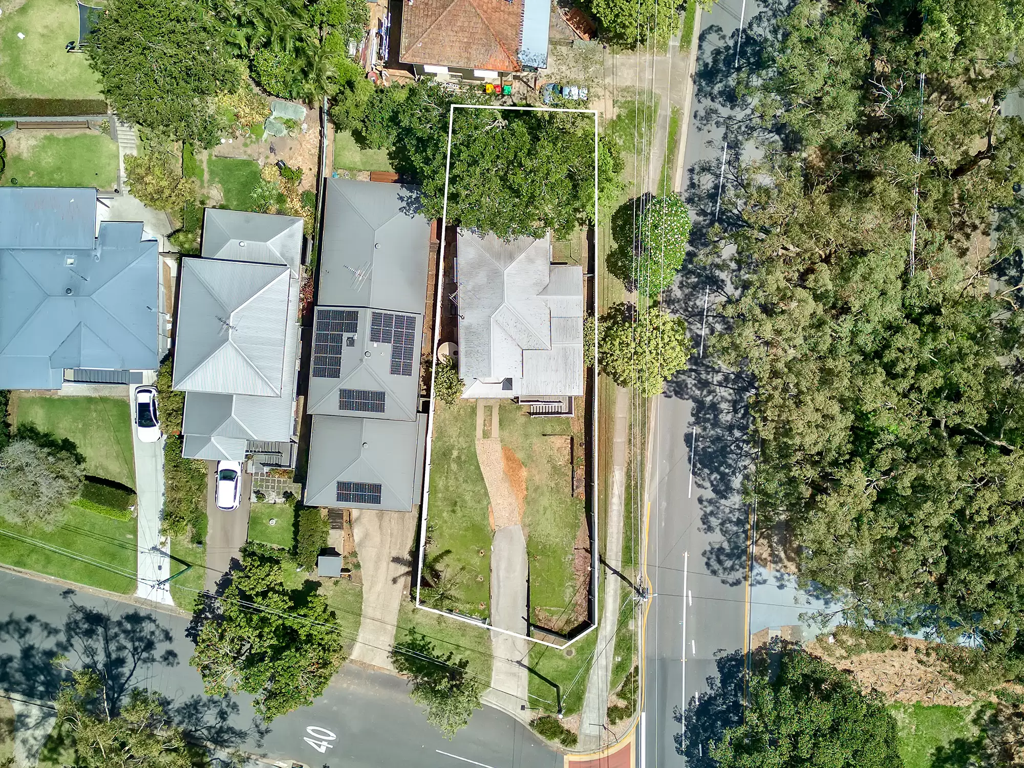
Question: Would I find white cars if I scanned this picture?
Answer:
Yes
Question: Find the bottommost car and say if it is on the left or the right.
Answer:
left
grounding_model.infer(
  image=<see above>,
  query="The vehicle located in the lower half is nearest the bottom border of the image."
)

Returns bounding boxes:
[212,461,245,512]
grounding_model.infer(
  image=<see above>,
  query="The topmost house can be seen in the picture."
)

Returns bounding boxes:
[398,0,552,85]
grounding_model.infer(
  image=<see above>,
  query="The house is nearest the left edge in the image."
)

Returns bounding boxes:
[0,186,170,392]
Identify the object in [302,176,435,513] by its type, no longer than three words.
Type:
house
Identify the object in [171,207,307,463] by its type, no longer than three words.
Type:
house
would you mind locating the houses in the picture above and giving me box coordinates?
[302,176,435,513]
[455,226,585,401]
[171,207,307,463]
[0,186,170,392]
[398,0,552,85]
